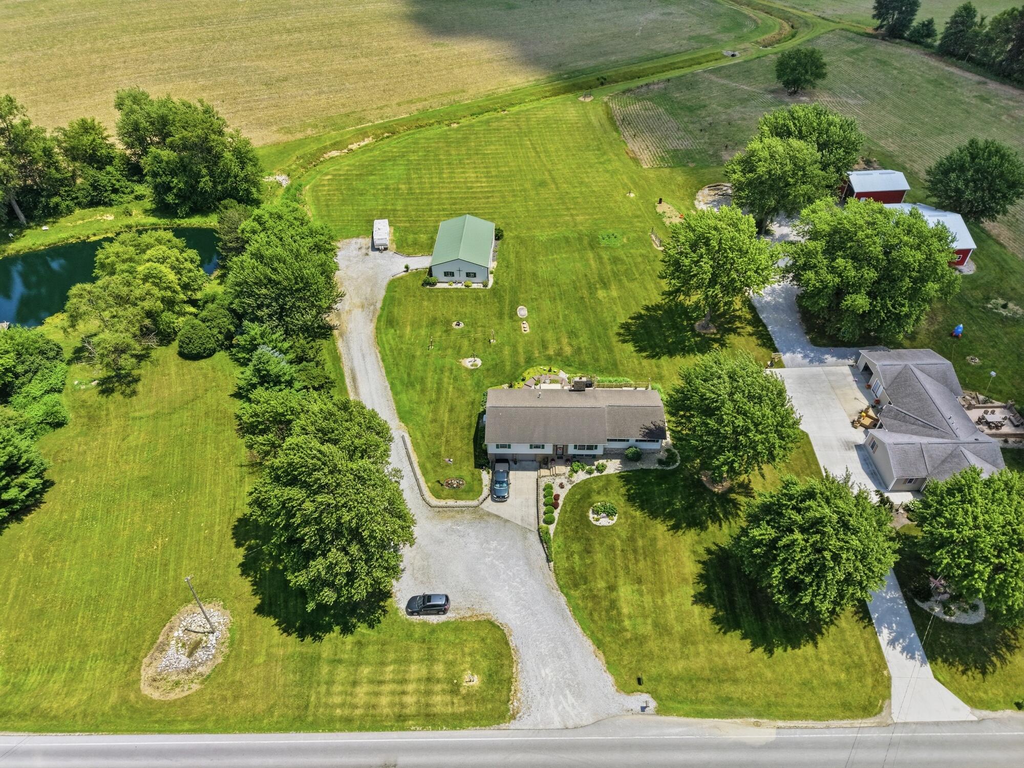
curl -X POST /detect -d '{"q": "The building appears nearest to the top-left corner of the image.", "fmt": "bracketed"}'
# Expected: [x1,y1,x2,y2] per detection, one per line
[429,210,497,284]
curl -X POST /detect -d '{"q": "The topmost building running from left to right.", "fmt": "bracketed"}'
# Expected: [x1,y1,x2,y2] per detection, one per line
[826,167,909,206]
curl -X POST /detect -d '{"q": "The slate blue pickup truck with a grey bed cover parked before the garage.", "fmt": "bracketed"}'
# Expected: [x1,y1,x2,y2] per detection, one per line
[490,458,511,499]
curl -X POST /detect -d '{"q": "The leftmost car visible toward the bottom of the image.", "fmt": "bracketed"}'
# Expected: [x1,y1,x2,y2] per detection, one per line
[405,597,451,622]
